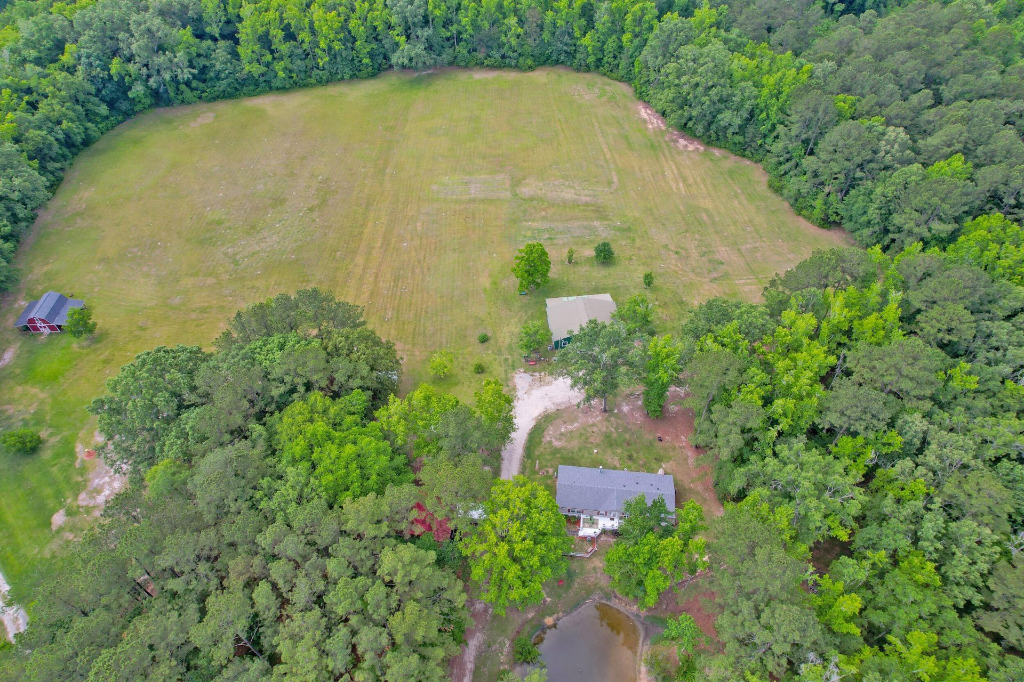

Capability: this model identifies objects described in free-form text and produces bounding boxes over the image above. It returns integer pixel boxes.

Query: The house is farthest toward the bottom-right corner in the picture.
[556,465,676,519]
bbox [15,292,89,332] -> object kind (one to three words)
barn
